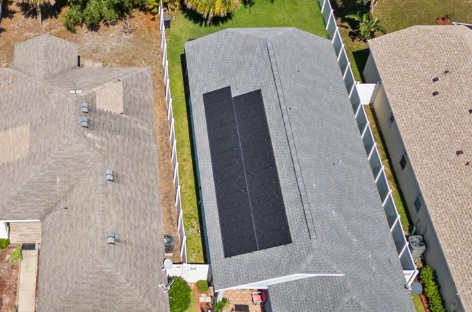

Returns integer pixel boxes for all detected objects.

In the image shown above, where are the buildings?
[184,29,416,312]
[0,34,172,312]
[363,26,472,312]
